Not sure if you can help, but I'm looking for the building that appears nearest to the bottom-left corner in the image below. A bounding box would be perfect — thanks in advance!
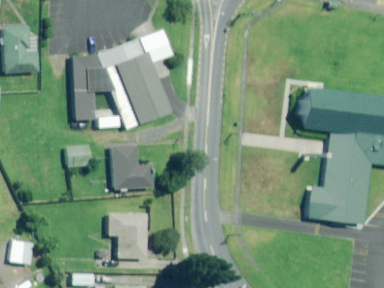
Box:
[6,239,34,266]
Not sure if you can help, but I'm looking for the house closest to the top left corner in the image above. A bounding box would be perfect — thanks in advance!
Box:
[2,26,40,75]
